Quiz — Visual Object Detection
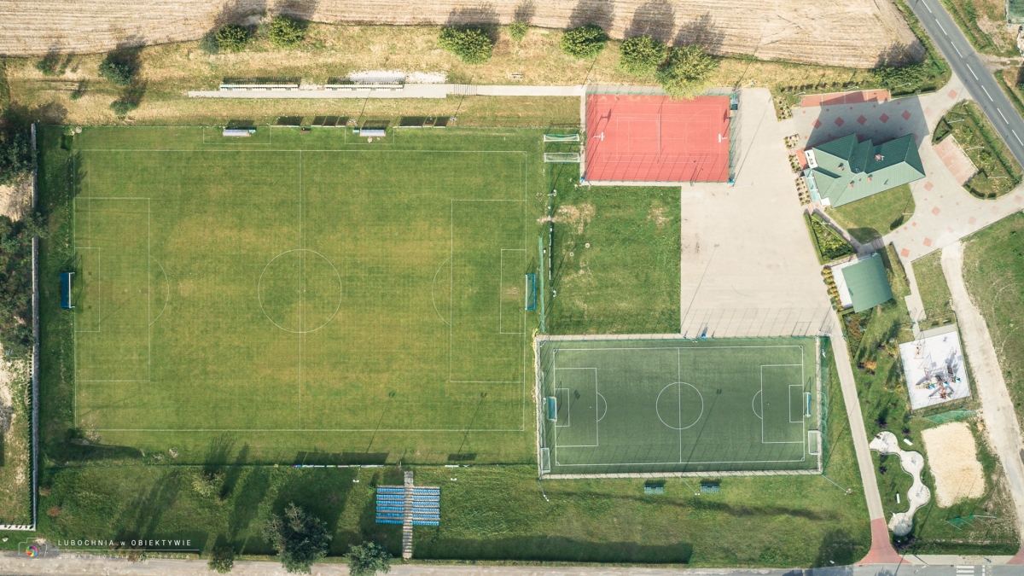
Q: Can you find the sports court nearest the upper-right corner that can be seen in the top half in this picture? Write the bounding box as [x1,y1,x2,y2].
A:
[585,95,729,182]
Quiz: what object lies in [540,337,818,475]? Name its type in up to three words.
soccer field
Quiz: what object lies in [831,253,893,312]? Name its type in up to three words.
building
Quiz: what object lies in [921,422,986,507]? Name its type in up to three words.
sports court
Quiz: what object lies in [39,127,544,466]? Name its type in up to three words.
soccer field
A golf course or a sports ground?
sports ground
